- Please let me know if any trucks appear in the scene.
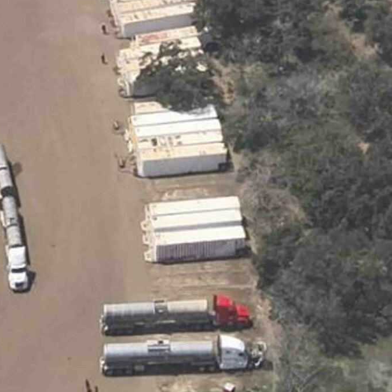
Yes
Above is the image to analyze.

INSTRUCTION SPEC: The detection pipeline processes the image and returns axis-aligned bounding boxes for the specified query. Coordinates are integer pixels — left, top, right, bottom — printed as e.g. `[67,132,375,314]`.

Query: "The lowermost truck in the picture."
[102,336,262,371]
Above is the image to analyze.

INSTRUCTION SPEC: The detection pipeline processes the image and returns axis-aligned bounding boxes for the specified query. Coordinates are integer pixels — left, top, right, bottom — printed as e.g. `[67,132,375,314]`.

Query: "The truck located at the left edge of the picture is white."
[0,146,30,293]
